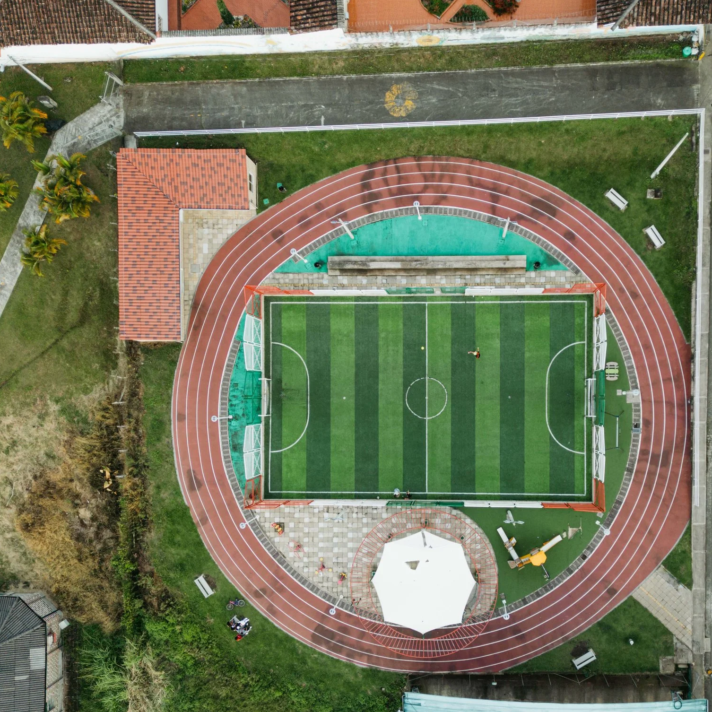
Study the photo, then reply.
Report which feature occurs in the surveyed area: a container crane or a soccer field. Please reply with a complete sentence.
There is a soccer field in the scene.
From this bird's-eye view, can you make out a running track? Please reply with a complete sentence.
Yes, there's a running track down there.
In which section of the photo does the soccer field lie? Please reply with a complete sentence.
The soccer field sits in the center section of the image.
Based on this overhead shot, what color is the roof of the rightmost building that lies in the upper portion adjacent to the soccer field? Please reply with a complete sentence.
From above, the roof of the rightmost building that lies in the upper portion adjacent to the soccer field looks red.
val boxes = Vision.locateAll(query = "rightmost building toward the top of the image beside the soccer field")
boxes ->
[117,148,256,343]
